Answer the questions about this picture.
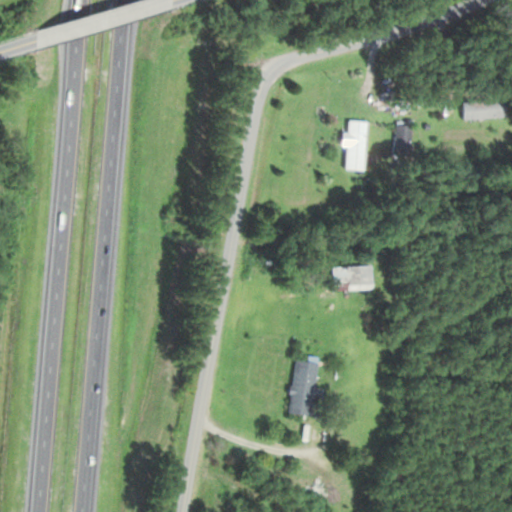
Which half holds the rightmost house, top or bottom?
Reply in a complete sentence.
The rightmost house sits in the top half of the picture.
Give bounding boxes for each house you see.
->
[342,120,369,172]
[395,120,414,156]
[288,354,323,420]
[332,265,376,297]
[464,101,504,124]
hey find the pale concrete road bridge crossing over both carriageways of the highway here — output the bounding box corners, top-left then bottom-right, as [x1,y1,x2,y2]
[34,0,176,51]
